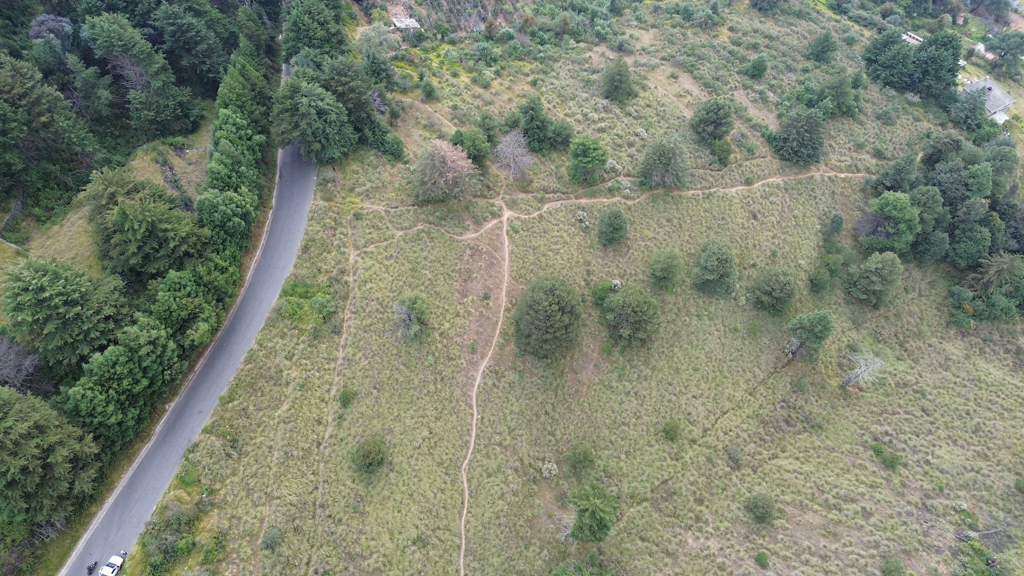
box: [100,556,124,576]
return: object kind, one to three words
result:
vehicle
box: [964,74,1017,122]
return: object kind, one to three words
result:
house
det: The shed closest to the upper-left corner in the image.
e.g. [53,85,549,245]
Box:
[394,18,422,36]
